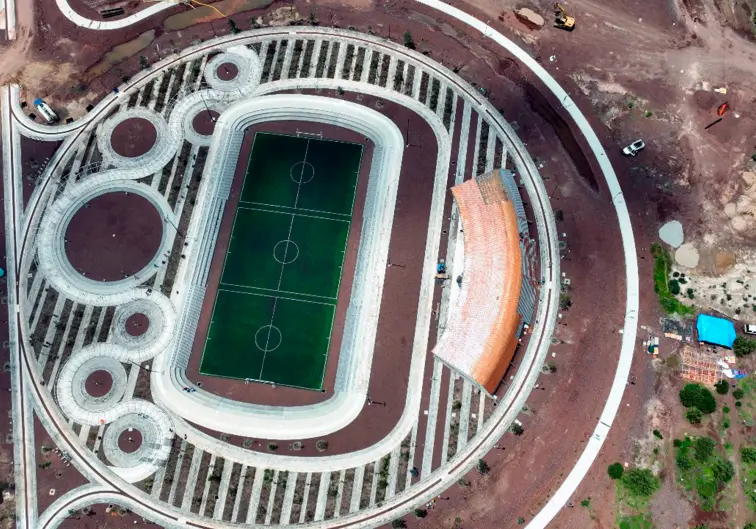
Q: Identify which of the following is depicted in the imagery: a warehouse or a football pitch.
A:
football pitch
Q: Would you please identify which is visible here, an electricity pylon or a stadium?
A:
stadium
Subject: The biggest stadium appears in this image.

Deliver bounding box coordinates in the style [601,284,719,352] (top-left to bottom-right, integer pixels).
[151,94,404,445]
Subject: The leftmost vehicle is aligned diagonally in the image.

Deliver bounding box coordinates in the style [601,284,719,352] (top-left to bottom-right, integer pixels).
[29,92,58,122]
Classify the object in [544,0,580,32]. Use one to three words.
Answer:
work vehicle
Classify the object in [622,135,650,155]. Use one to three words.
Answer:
vehicle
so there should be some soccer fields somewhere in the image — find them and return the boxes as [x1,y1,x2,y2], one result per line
[196,131,365,392]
